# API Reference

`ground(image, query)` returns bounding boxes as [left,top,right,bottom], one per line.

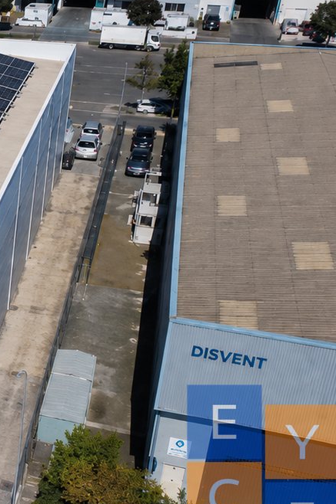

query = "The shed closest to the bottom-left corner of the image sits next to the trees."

[41,344,101,451]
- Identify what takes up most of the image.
buildings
